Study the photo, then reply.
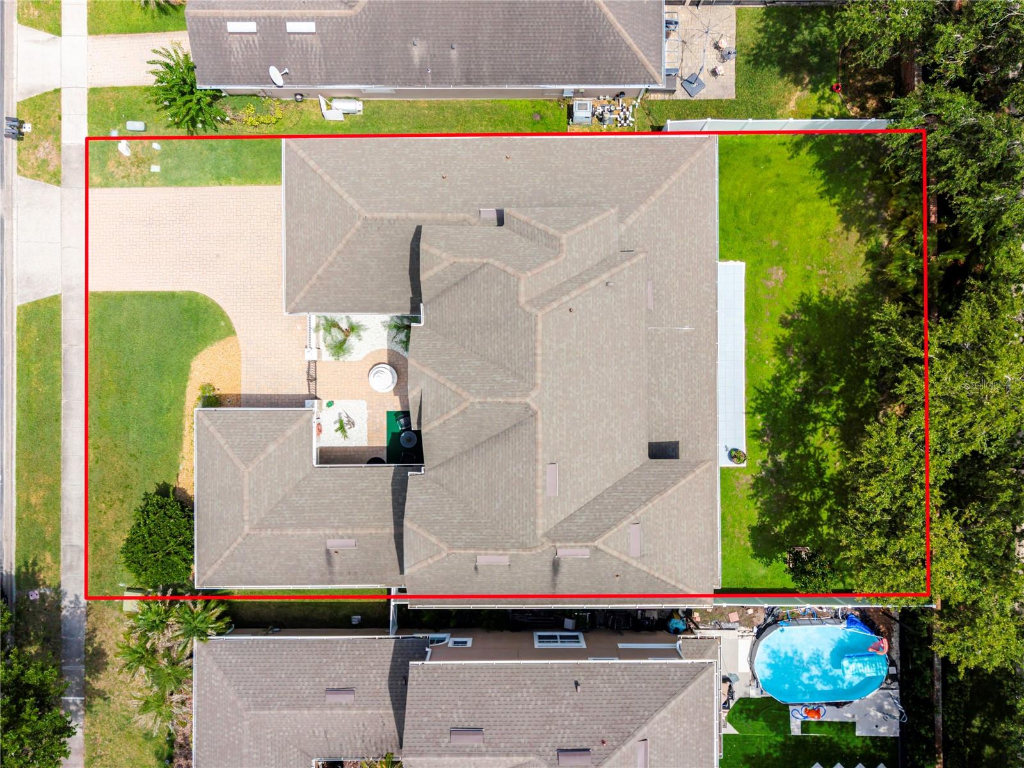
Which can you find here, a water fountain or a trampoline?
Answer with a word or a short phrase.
water fountain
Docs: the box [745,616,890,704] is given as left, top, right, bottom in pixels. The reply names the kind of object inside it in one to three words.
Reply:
swimming pool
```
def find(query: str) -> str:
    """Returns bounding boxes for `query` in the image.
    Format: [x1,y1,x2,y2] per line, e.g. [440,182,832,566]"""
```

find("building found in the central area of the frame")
[192,132,725,609]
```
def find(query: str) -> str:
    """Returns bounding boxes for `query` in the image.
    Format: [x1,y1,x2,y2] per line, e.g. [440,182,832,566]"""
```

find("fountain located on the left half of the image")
[368,364,397,393]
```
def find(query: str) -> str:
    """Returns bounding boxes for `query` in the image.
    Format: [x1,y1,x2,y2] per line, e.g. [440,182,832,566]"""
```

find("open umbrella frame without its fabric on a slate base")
[677,6,734,97]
